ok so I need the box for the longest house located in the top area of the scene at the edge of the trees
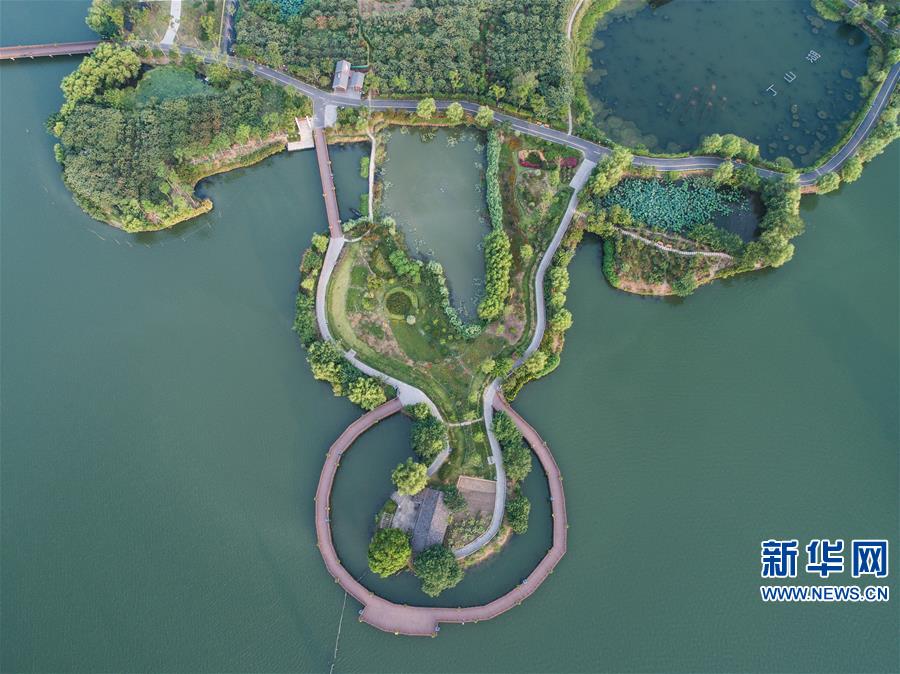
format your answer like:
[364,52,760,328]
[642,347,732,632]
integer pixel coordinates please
[333,60,351,91]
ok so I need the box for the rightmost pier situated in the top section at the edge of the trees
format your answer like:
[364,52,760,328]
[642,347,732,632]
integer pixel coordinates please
[288,114,315,152]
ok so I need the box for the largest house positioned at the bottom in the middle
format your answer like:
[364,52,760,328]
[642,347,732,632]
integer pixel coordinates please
[411,489,447,547]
